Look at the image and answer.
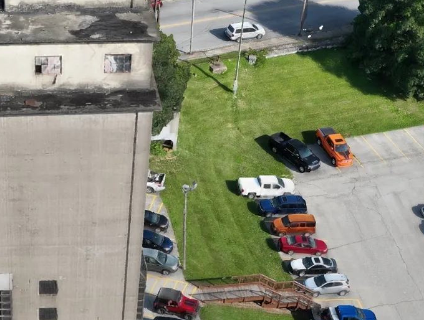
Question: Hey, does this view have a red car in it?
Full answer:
Yes, there's a red car here.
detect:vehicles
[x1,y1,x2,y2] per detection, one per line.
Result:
[152,286,201,320]
[286,256,339,276]
[147,176,167,194]
[143,231,173,255]
[277,236,327,255]
[273,137,315,168]
[271,214,317,236]
[147,251,180,276]
[319,132,349,165]
[308,306,375,320]
[301,273,352,297]
[239,176,294,196]
[144,211,169,234]
[258,194,308,216]
[146,0,160,7]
